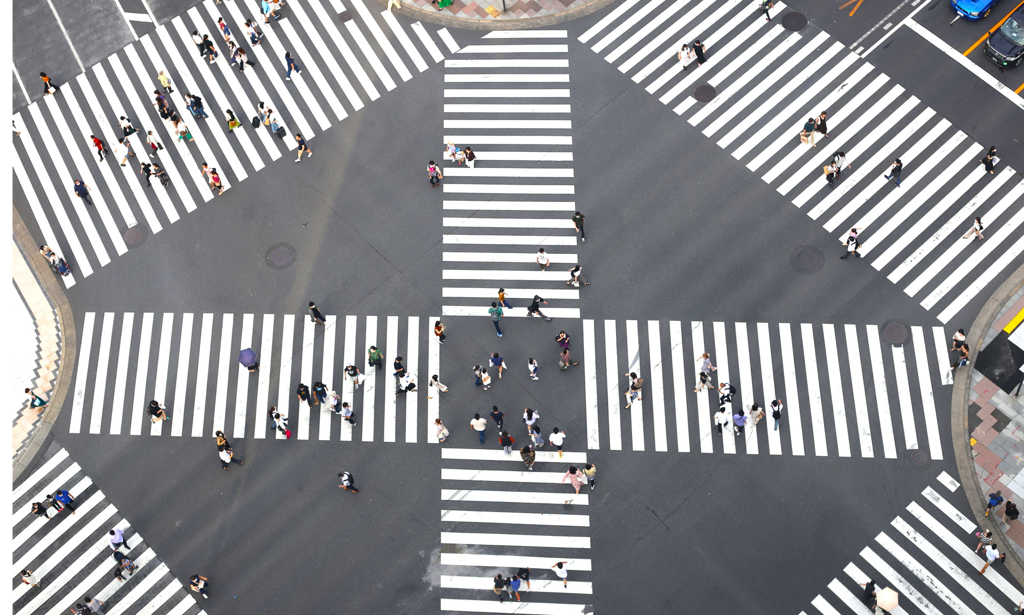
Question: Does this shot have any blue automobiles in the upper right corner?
Yes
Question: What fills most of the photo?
paved ground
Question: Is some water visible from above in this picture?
No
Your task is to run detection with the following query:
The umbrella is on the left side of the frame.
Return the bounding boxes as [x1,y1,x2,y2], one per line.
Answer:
[237,351,256,370]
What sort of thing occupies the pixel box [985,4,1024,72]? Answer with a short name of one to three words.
car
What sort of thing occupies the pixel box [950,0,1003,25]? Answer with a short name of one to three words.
car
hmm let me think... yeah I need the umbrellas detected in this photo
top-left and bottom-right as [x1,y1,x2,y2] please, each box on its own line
[237,351,256,370]
[873,588,899,612]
